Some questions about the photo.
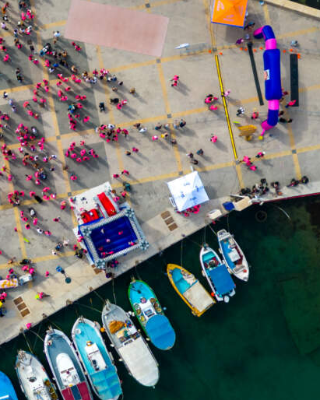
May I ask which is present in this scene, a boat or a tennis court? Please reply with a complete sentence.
Of the two, only a boat appears.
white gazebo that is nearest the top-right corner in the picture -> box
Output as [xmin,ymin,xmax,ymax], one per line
[163,171,209,212]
